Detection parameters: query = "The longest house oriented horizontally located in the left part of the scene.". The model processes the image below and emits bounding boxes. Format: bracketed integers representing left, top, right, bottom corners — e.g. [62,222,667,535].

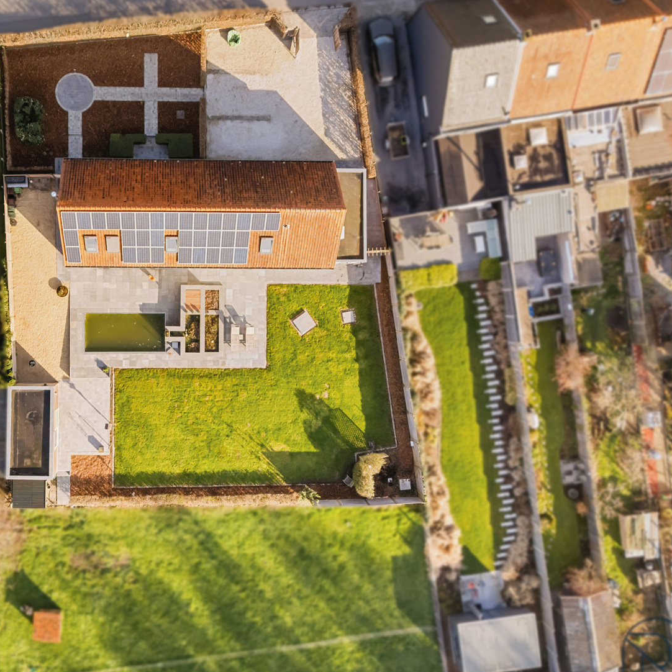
[55,157,346,270]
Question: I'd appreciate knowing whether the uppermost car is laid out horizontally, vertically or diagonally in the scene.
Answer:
vertically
